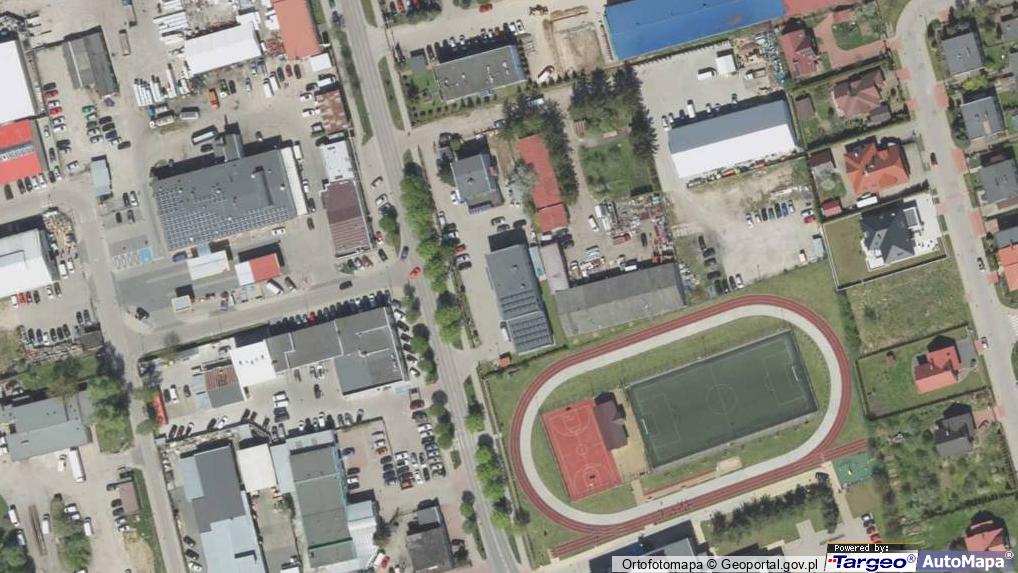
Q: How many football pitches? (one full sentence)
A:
In total, there is 1 football pitch in the scene.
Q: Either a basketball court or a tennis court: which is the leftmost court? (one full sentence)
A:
What you see as the leftmost court is a basketball court.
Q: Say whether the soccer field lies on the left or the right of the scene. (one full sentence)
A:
The soccer field sits on the right side.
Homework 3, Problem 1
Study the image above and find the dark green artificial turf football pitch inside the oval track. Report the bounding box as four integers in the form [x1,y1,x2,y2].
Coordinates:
[630,331,817,469]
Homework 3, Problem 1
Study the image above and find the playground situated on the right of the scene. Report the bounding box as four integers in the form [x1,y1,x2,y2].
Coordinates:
[833,451,872,484]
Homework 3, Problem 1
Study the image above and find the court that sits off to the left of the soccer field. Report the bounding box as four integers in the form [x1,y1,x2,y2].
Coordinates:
[542,400,623,501]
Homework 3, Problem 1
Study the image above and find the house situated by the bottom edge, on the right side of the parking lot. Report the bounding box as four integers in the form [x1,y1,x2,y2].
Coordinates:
[964,528,1009,560]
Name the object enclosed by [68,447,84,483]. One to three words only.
vehicle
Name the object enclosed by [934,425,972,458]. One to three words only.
house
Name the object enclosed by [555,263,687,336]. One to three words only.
shed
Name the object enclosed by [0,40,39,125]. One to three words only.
building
